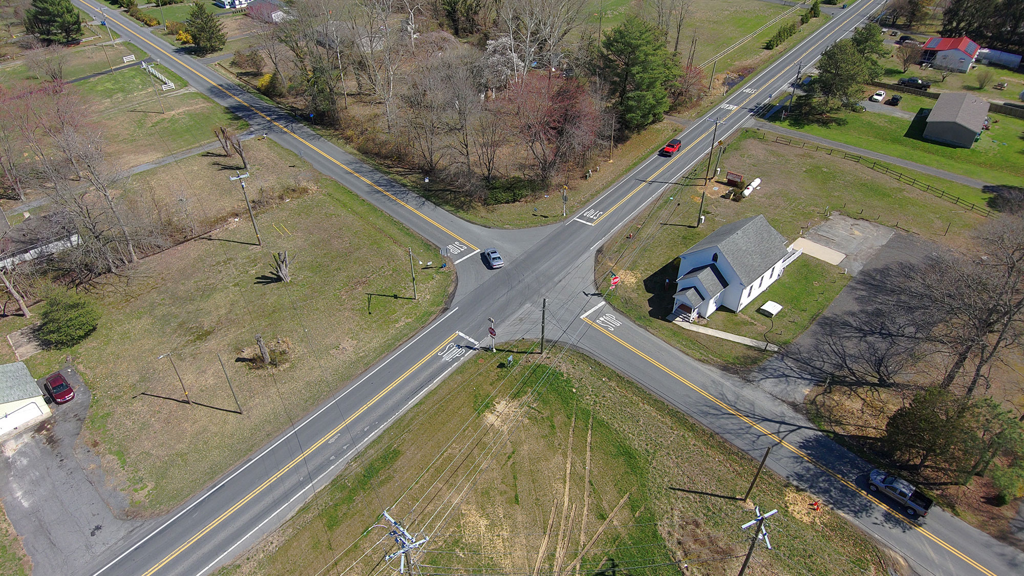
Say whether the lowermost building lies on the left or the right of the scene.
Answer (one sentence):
The lowermost building sits on the left side.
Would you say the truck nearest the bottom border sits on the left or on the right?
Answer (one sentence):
The truck nearest the bottom border is on the right side of the image.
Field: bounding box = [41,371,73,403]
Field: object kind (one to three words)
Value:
car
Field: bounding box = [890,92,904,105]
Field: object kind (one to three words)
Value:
vehicle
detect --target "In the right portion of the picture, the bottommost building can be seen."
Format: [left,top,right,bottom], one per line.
[666,214,809,324]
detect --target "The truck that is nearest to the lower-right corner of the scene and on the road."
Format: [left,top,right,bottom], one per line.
[868,471,943,524]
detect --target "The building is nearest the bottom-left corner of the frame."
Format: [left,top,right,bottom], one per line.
[0,364,52,439]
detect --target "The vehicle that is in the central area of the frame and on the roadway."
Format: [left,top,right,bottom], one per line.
[481,248,505,270]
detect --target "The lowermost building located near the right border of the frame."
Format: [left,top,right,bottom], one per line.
[923,92,990,147]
